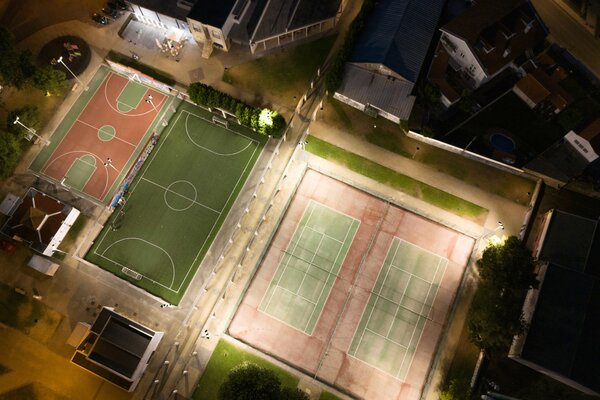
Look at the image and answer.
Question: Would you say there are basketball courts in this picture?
Yes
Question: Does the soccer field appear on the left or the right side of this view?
left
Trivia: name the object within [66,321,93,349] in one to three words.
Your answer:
shed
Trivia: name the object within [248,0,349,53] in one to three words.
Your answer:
building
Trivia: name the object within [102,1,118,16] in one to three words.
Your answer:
car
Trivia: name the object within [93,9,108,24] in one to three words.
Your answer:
car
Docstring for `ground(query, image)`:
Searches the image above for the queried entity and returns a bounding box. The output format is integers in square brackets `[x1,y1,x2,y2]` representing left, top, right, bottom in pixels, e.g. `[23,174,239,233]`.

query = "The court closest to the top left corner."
[29,66,175,206]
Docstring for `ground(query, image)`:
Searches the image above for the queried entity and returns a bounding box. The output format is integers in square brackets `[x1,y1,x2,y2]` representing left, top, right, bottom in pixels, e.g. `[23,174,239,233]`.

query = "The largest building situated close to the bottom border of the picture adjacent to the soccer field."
[70,306,163,390]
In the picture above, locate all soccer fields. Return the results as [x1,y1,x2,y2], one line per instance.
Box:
[86,101,270,305]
